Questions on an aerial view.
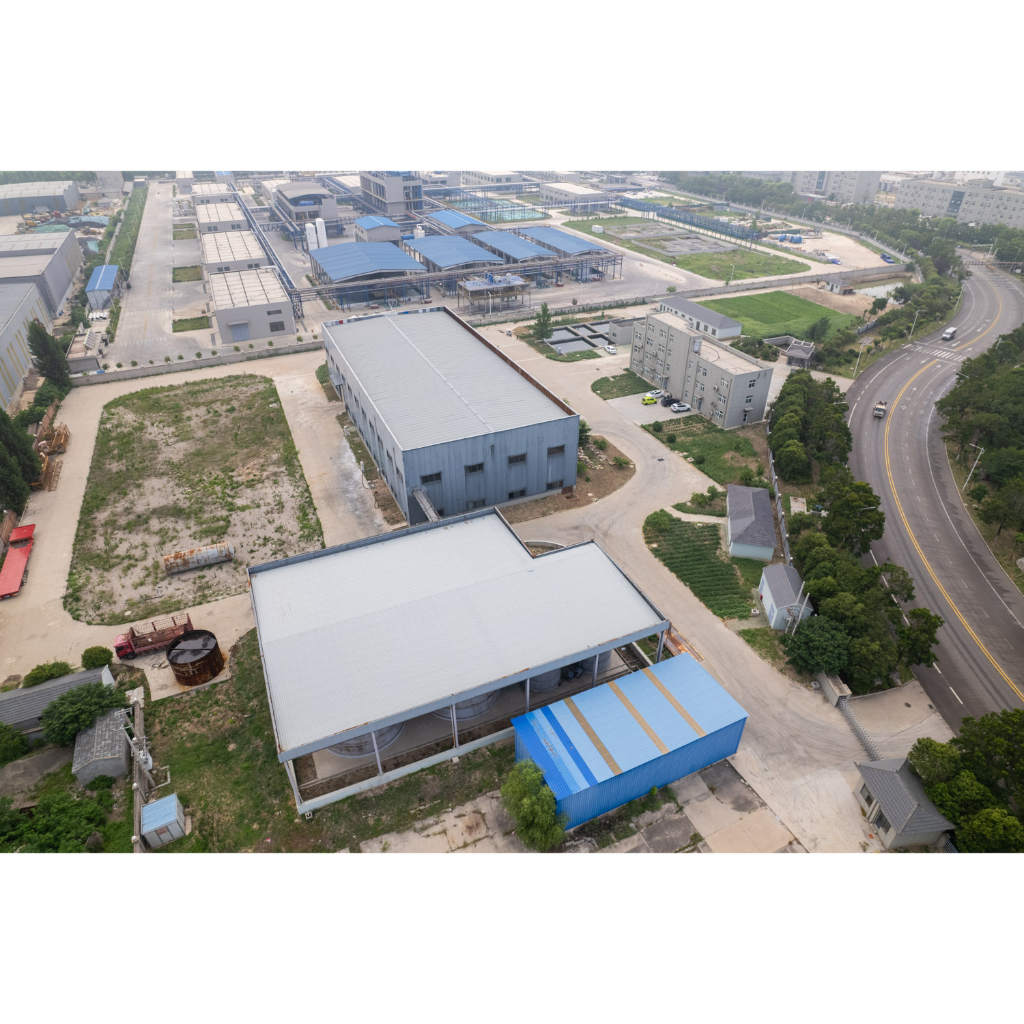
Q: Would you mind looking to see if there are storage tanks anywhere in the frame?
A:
Yes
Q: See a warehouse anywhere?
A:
Yes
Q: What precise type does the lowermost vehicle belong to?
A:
truck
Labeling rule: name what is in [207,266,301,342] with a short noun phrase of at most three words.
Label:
building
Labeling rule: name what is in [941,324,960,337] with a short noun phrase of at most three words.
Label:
vehicle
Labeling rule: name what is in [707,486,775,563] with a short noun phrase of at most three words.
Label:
house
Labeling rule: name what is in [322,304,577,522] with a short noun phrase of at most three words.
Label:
warehouse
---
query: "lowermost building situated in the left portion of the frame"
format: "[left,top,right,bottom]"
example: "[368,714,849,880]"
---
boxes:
[141,793,193,847]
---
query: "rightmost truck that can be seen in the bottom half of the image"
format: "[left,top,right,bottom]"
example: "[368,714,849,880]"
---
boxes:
[113,602,200,660]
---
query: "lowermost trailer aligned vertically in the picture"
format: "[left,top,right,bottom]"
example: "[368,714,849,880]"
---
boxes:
[0,521,36,604]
